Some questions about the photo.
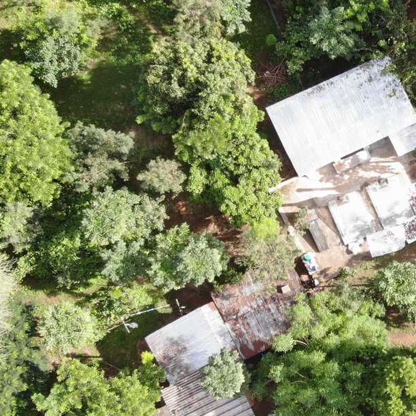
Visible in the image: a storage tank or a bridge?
storage tank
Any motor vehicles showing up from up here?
No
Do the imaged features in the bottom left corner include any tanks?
No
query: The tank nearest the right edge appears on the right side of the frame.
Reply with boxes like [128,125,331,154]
[367,175,416,230]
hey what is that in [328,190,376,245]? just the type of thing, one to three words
storage tank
